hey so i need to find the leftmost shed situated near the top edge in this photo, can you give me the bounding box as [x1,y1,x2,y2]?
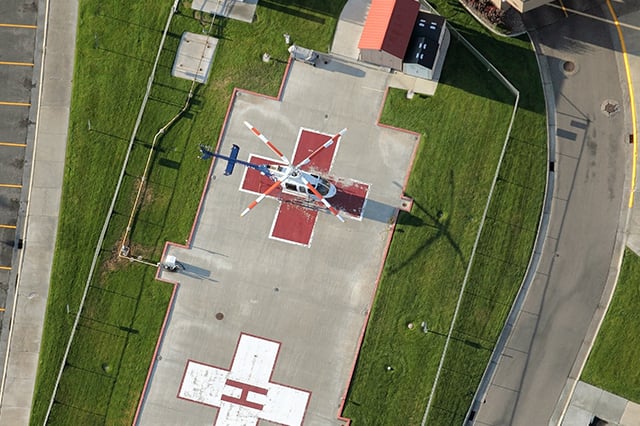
[358,0,419,72]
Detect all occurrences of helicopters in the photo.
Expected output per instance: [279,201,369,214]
[198,123,346,224]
